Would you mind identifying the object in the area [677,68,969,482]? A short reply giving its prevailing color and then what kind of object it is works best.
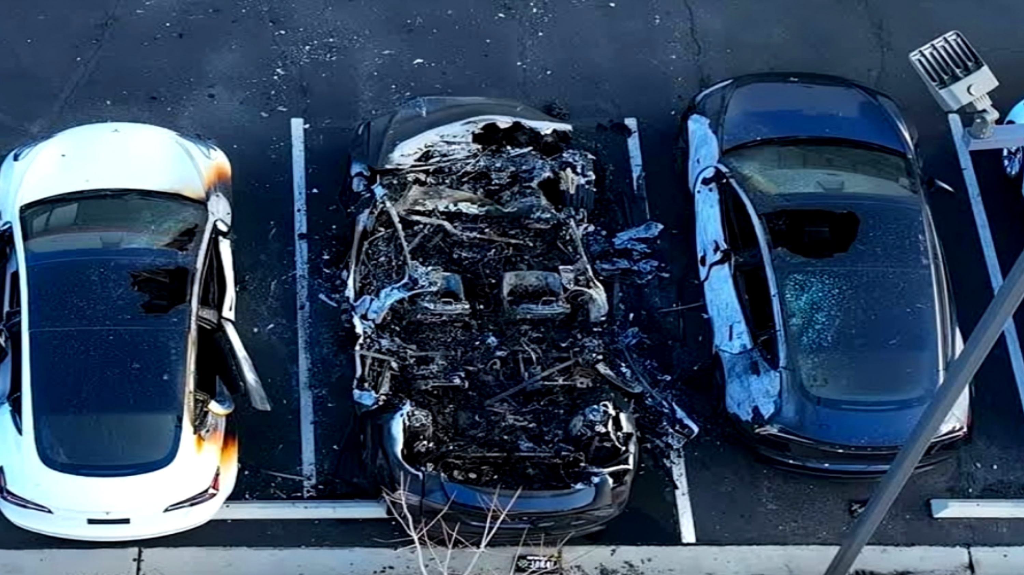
blue car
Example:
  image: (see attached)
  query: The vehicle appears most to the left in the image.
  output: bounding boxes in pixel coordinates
[0,121,274,547]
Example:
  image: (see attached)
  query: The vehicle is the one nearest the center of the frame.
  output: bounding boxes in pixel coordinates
[346,93,637,536]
